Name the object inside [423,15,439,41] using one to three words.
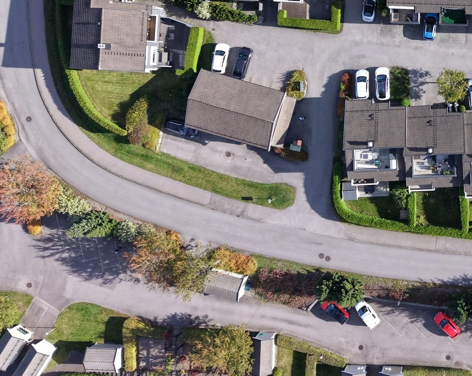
car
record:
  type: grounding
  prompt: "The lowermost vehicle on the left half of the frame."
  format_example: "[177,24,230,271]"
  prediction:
[165,119,195,138]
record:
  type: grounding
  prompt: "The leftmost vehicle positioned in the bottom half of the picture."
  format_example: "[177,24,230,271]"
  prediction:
[322,301,349,325]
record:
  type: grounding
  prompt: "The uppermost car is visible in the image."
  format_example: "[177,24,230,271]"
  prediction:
[362,0,377,21]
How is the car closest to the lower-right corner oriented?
at an angle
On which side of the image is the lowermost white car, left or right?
right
